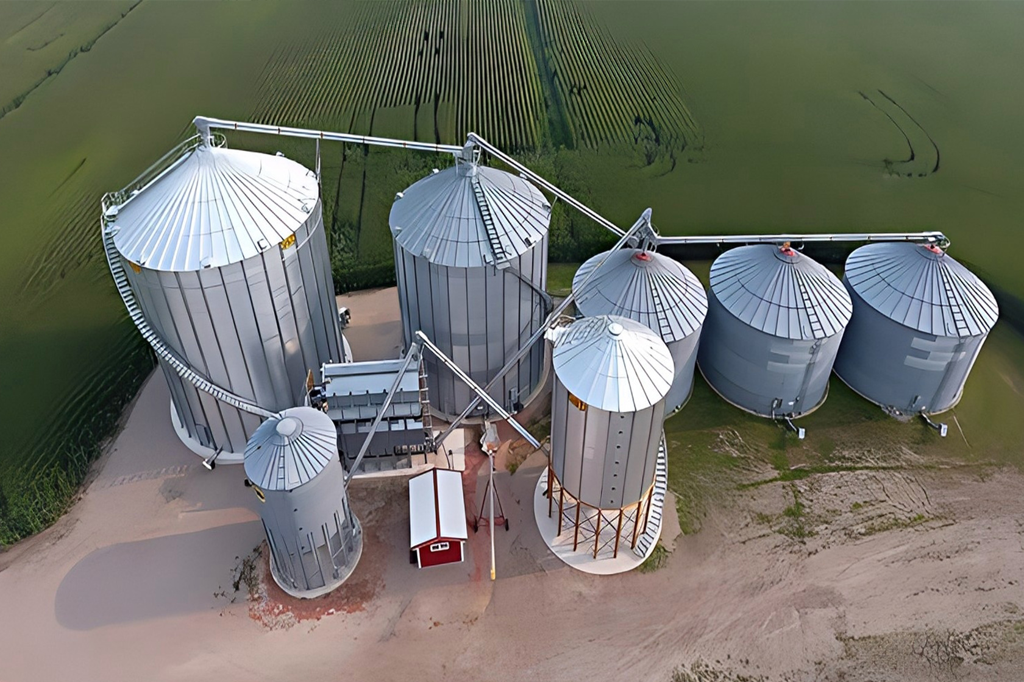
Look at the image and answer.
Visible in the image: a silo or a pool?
silo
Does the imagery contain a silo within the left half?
Yes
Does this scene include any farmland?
Yes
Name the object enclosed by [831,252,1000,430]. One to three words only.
silo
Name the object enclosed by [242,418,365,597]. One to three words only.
silo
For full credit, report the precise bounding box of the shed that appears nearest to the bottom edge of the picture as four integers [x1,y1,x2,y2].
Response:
[409,469,469,569]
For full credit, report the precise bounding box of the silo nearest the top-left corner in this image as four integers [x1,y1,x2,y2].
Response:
[94,131,354,463]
